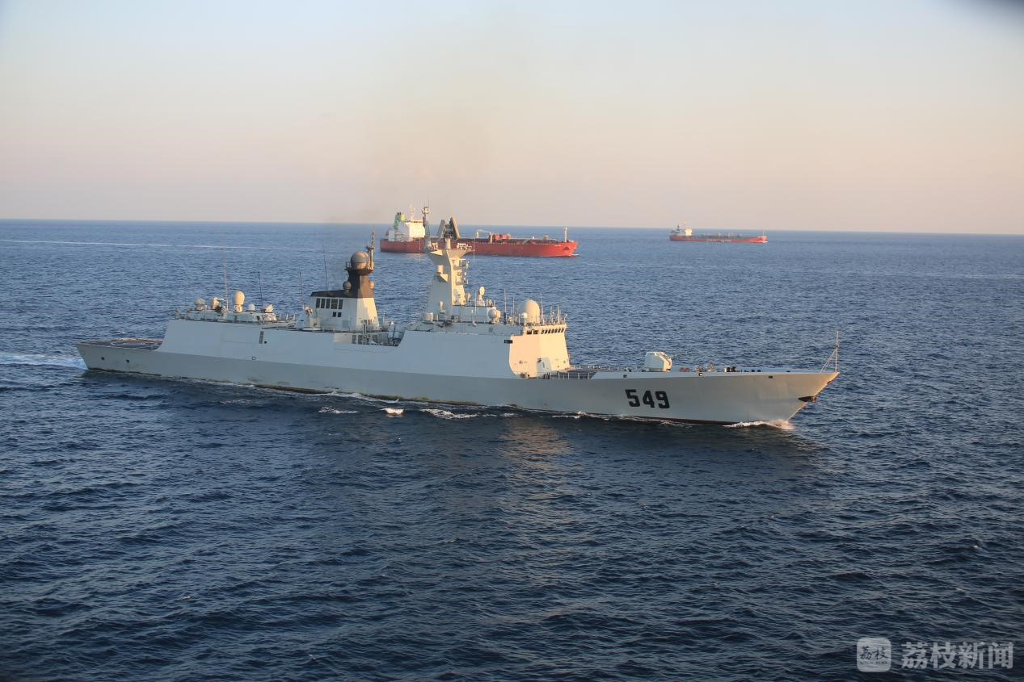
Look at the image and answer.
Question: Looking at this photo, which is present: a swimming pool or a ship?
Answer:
ship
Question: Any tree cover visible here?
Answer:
No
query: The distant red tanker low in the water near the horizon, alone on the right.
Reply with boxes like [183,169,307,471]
[668,227,768,243]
